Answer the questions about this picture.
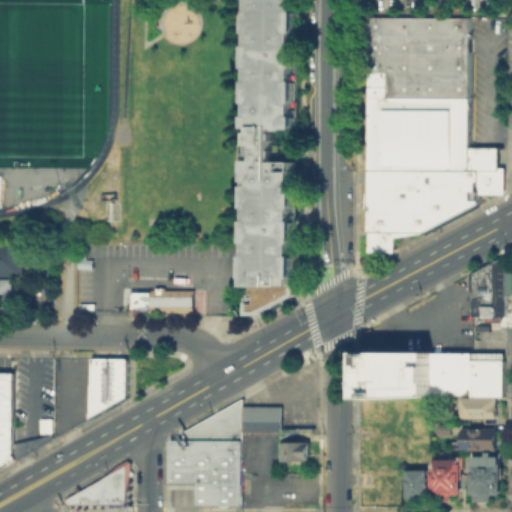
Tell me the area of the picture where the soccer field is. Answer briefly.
top left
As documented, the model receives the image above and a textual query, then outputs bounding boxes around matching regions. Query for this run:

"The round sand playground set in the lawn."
[161,2,204,46]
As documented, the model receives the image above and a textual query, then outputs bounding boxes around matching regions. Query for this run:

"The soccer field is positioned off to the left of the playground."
[0,0,110,168]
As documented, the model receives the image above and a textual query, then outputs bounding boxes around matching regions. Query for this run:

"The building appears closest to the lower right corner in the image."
[468,452,502,500]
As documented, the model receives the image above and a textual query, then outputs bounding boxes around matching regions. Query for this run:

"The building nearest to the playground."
[233,0,294,288]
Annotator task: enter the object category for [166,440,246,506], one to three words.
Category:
building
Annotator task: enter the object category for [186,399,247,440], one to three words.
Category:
building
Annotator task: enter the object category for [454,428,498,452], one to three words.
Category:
house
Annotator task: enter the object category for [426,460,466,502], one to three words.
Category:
house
